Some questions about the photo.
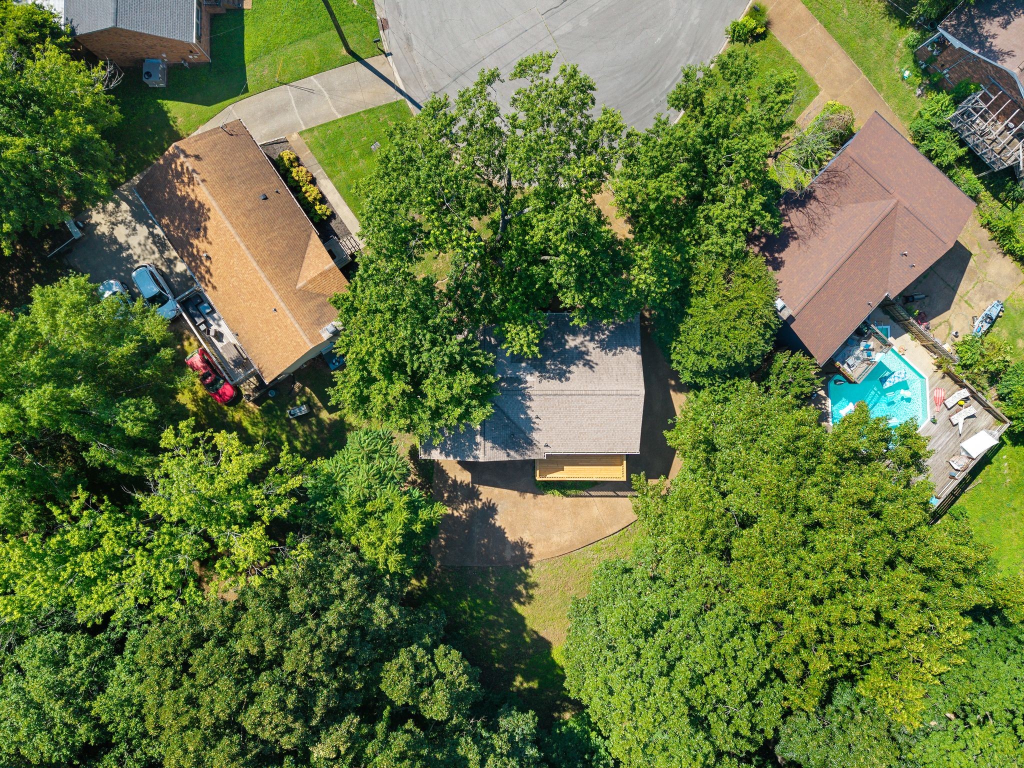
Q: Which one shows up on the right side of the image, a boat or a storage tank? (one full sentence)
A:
You can see a boat on the right side of the image.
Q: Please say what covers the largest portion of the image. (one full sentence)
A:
For the most part, this view shows trees.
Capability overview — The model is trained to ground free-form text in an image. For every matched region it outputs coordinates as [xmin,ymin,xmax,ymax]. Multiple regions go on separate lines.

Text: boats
[976,299,1008,337]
